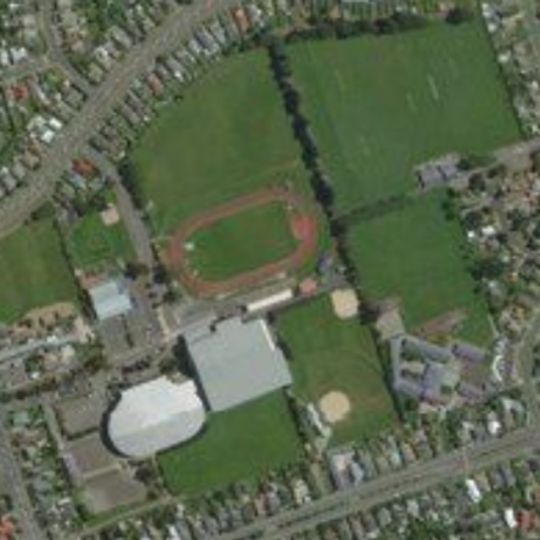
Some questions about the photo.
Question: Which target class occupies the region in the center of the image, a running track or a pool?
running track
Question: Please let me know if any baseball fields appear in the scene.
Yes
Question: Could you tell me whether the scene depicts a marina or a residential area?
residential area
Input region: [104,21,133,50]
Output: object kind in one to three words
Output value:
house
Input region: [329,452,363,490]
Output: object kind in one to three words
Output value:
building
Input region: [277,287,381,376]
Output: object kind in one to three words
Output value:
baseball field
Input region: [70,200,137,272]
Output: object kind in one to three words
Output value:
sports field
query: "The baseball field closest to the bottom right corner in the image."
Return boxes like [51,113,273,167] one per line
[291,352,400,446]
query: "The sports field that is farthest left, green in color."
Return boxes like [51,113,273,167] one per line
[0,204,78,325]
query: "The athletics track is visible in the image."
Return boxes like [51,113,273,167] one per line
[168,186,317,299]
